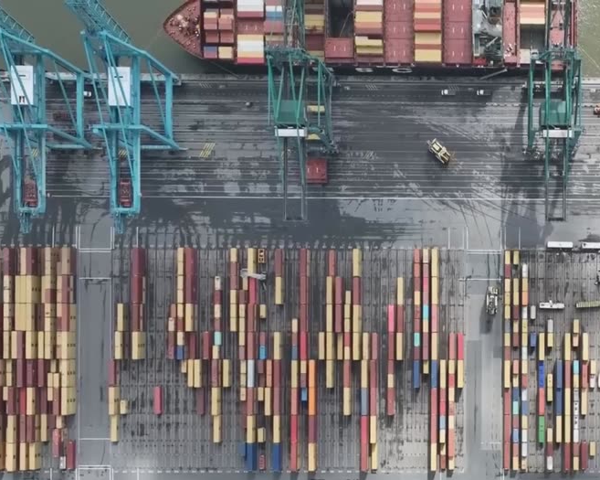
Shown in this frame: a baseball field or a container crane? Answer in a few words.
container crane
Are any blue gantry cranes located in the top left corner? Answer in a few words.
Yes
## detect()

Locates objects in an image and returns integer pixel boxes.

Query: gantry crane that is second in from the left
[72,0,187,227]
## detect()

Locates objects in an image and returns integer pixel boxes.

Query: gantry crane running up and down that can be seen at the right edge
[521,0,587,229]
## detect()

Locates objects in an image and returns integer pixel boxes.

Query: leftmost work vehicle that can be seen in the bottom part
[486,287,498,313]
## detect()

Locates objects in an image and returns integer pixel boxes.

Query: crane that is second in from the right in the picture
[267,0,342,227]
